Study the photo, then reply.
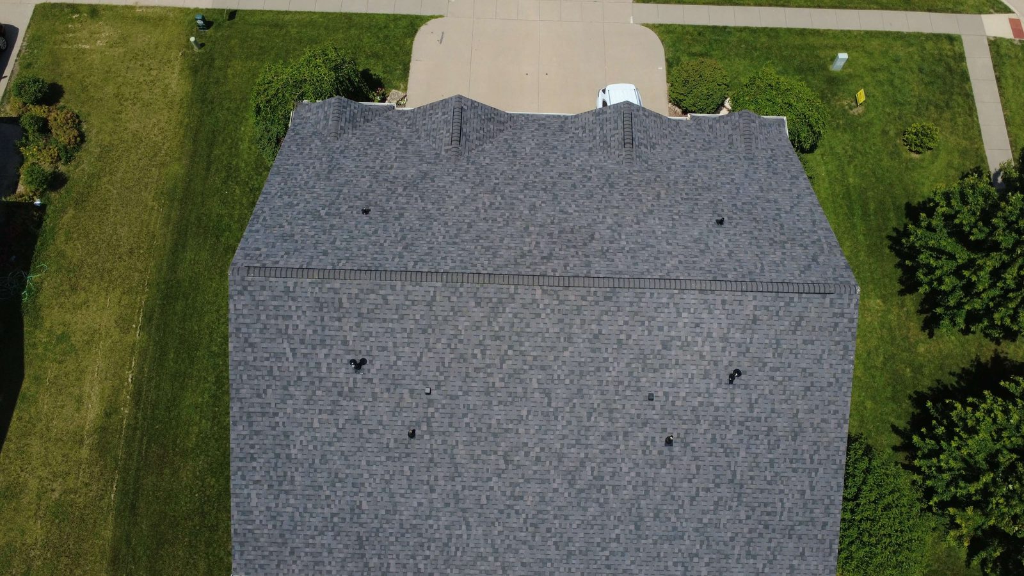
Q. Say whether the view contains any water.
No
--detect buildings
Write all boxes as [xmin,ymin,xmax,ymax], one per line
[229,96,859,576]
